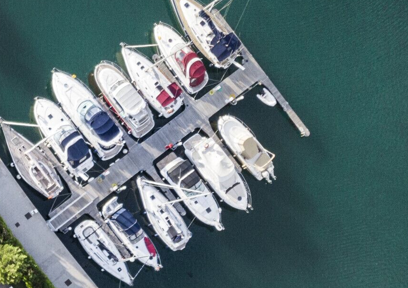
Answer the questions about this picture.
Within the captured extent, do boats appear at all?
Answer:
Yes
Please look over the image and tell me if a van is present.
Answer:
No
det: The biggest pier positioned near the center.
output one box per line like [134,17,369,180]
[39,8,311,260]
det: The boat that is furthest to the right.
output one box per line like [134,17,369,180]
[256,88,276,107]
